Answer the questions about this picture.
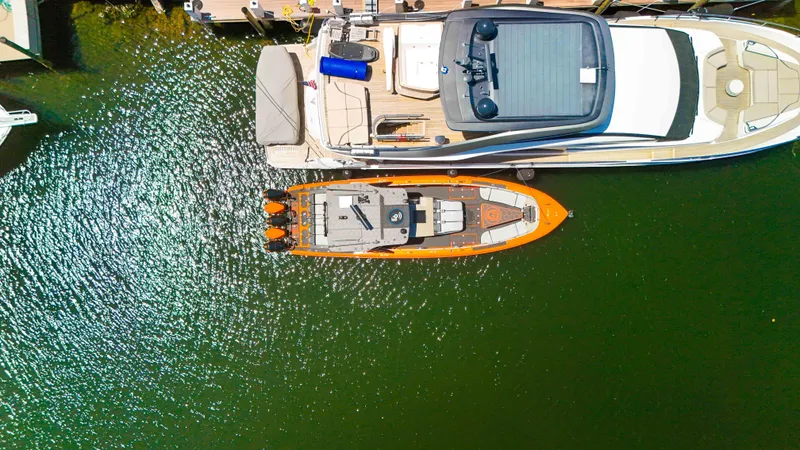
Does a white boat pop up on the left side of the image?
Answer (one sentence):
Yes, a white boat is visible on the left side of the image.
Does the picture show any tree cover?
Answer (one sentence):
No, there's no tree cover in this view.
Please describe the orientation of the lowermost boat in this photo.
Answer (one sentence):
In this picture, the lowermost boat is oriented from left to right.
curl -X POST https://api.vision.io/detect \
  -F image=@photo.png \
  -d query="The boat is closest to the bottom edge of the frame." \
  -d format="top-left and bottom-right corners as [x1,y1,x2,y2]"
[264,176,575,259]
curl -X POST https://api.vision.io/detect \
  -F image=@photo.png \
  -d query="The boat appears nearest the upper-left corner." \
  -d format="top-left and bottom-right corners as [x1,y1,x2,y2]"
[0,104,39,148]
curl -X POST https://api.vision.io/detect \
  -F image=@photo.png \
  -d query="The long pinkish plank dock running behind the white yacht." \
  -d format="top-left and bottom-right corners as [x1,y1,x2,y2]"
[188,0,800,25]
